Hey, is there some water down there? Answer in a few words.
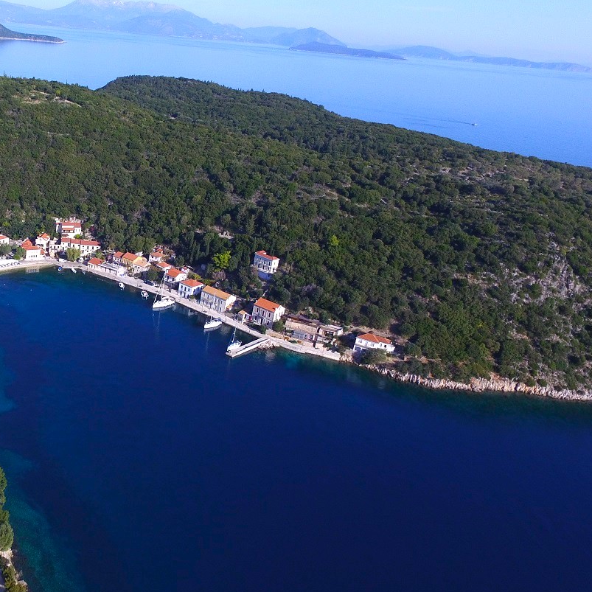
Yes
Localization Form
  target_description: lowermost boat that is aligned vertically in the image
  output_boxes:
[227,311,244,352]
